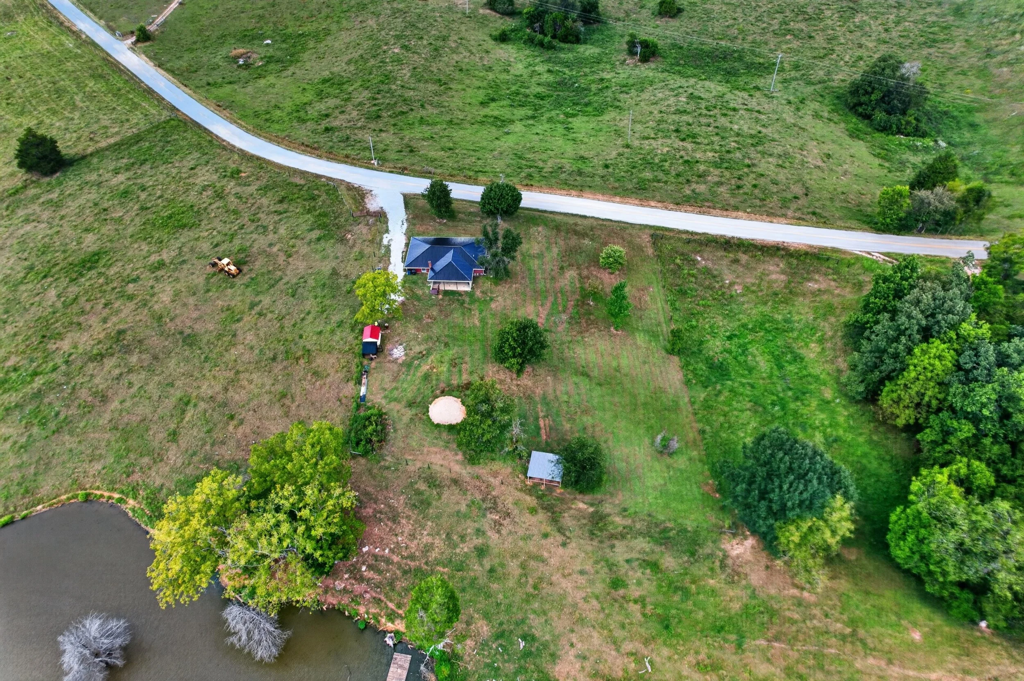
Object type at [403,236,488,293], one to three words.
house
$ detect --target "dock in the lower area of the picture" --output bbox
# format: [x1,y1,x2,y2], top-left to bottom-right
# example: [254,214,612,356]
[387,653,411,681]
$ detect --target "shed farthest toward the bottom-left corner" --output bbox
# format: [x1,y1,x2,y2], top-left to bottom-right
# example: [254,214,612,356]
[360,323,382,361]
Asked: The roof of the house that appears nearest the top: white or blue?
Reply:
blue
